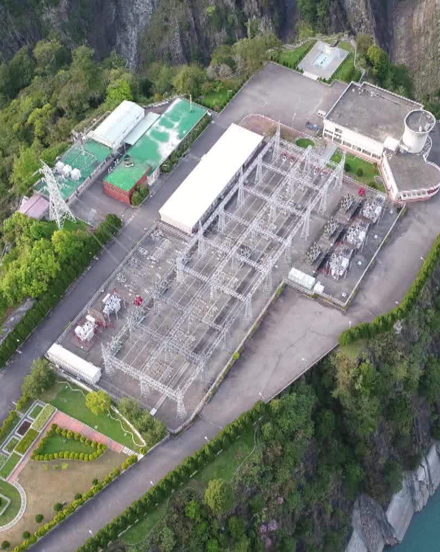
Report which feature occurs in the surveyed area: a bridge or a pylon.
pylon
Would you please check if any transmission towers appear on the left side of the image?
Yes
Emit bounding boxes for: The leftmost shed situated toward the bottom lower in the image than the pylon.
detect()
[47,344,103,384]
